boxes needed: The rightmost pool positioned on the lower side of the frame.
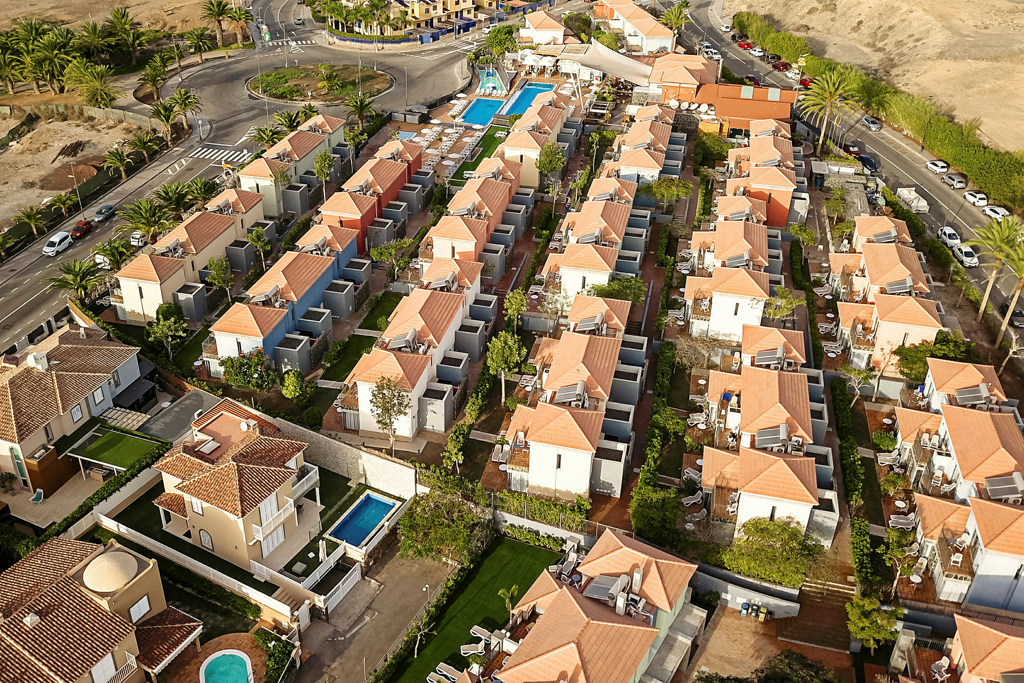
[325,490,399,551]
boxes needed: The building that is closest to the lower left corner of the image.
[0,533,207,683]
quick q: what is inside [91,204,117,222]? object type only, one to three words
car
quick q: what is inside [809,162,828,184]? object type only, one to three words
shed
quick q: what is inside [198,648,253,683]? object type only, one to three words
swimming pool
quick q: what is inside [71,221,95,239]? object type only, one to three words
car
